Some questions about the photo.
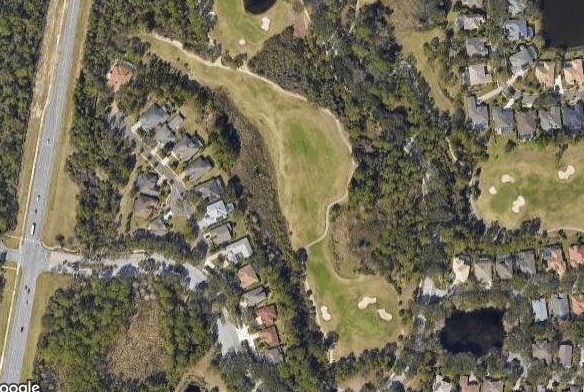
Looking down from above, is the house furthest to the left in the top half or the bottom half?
top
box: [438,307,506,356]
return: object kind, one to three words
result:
pond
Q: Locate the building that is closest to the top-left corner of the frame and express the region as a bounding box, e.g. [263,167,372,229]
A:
[105,60,135,84]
